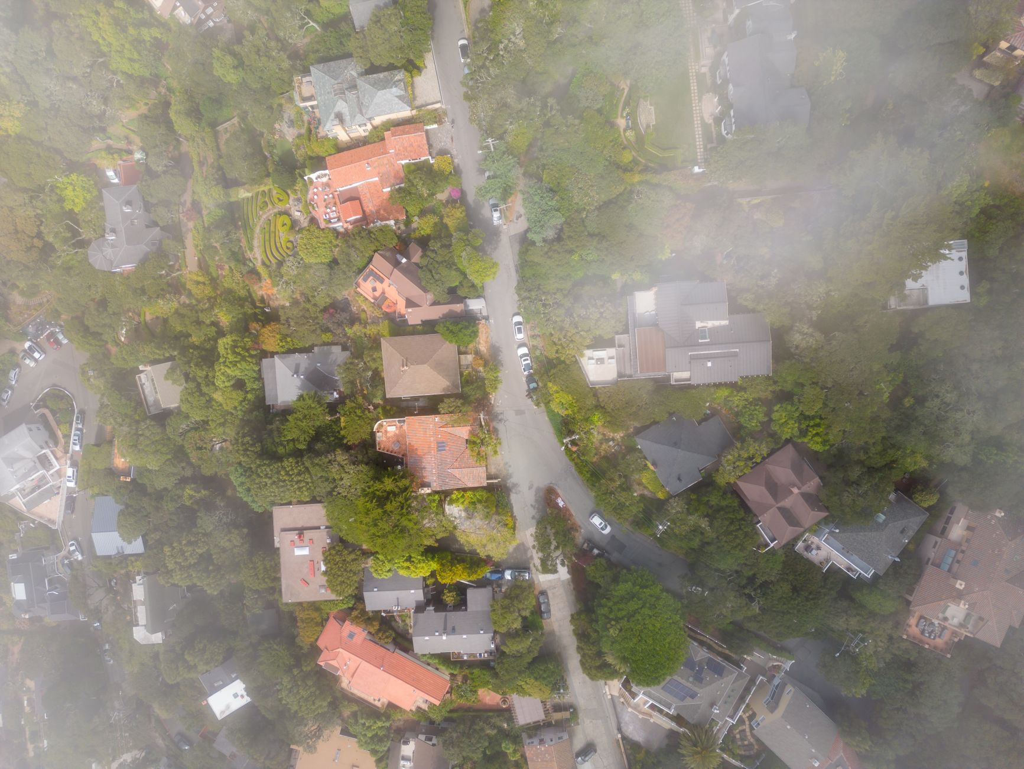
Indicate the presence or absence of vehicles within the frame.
Yes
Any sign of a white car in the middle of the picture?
Yes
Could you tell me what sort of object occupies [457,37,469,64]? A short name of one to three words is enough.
vehicle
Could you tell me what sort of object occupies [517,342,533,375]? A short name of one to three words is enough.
car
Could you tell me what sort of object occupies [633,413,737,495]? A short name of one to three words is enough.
house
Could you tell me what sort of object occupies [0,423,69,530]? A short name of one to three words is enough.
house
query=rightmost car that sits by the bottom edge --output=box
[573,744,600,768]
